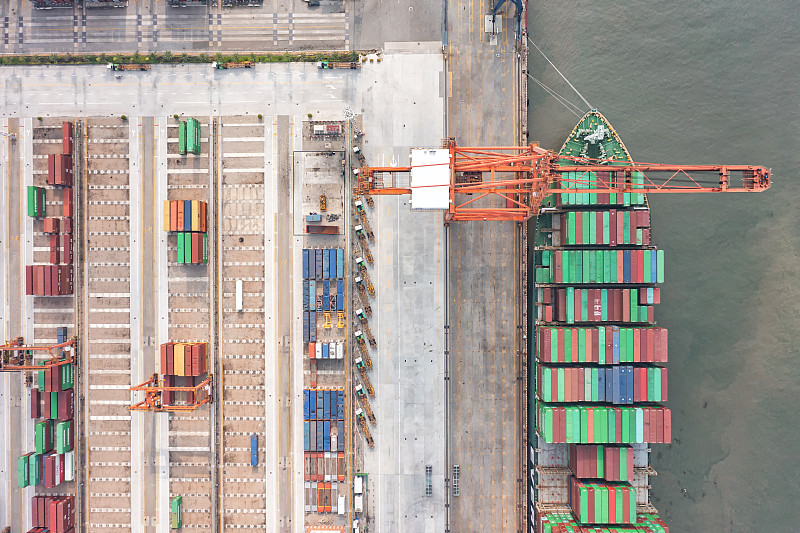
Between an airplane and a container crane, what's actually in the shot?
container crane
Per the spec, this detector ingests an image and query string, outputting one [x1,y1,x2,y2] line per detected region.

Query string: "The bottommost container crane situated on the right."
[355,138,777,234]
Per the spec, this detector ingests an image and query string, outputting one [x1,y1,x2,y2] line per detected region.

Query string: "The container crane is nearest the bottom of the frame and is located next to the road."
[134,372,212,413]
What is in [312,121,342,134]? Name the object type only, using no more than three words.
building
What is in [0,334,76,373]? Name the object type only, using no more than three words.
container crane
